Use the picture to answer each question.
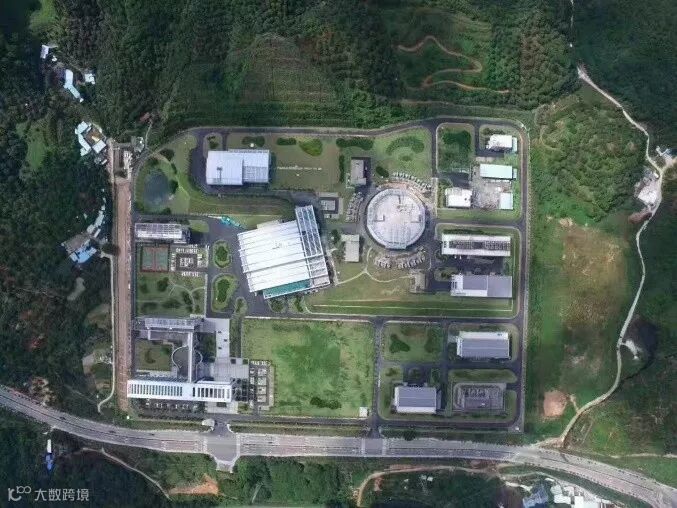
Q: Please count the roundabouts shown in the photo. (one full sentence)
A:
I count no roundabouts.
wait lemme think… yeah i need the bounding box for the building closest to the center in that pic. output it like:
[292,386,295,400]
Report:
[341,234,359,261]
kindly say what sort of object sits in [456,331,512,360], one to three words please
building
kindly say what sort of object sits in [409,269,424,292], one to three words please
building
